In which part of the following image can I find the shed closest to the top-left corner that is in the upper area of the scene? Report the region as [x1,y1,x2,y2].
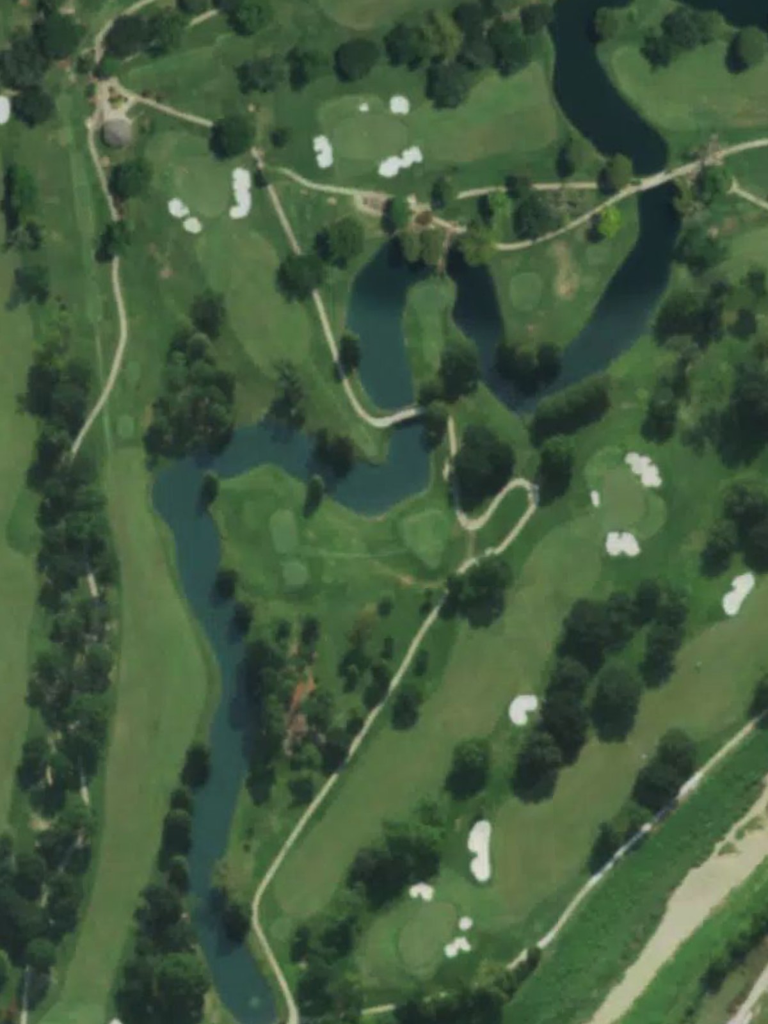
[102,116,132,147]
